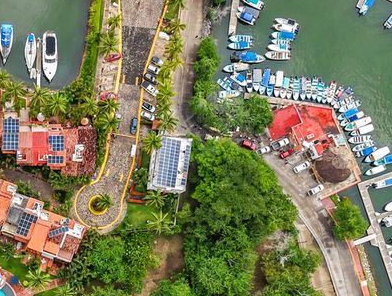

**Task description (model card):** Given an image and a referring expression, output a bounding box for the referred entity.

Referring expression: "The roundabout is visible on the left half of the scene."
[71,184,123,237]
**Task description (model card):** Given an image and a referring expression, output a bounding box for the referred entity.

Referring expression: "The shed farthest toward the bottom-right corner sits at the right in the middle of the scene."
[312,153,351,181]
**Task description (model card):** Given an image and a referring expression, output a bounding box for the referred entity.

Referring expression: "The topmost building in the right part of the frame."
[262,103,344,162]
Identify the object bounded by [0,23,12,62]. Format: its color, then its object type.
blue boat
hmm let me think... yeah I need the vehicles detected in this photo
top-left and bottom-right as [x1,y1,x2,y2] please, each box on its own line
[294,161,309,173]
[130,118,138,133]
[141,110,155,121]
[130,144,138,157]
[147,63,160,75]
[271,138,289,150]
[256,145,271,155]
[307,184,324,196]
[279,148,294,159]
[107,52,121,61]
[142,101,155,113]
[241,139,256,151]
[151,55,164,67]
[142,80,158,96]
[143,71,157,84]
[103,93,116,99]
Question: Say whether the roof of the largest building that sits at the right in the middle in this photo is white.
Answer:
No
